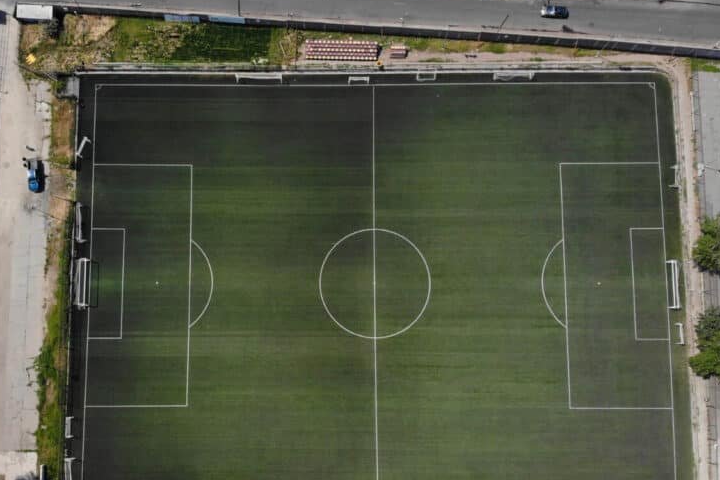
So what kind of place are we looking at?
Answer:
sports ground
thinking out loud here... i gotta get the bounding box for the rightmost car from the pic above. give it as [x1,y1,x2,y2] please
[541,4,569,18]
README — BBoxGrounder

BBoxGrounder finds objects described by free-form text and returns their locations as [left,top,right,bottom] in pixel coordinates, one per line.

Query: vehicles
[541,4,569,18]
[26,158,41,190]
